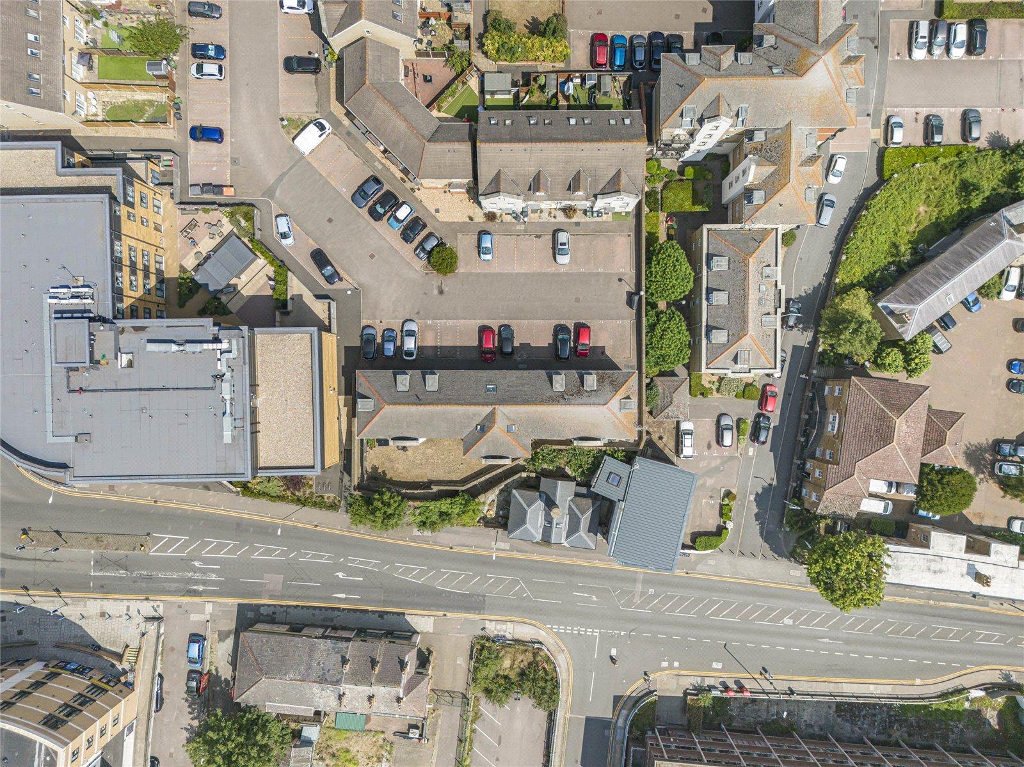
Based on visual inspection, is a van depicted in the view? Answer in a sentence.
Yes, this view includes a van.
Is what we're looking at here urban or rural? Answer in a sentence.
It looks urban.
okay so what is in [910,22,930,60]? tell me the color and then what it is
white car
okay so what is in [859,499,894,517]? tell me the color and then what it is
white vehicle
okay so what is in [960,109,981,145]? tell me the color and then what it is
gray car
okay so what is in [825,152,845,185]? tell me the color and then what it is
white car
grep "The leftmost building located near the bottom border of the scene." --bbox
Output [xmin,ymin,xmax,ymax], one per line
[0,659,137,767]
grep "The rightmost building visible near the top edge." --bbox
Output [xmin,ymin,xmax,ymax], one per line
[647,0,865,239]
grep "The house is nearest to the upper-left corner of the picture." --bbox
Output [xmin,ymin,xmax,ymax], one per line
[0,0,84,125]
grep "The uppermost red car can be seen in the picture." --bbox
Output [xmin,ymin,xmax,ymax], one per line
[592,37,608,69]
